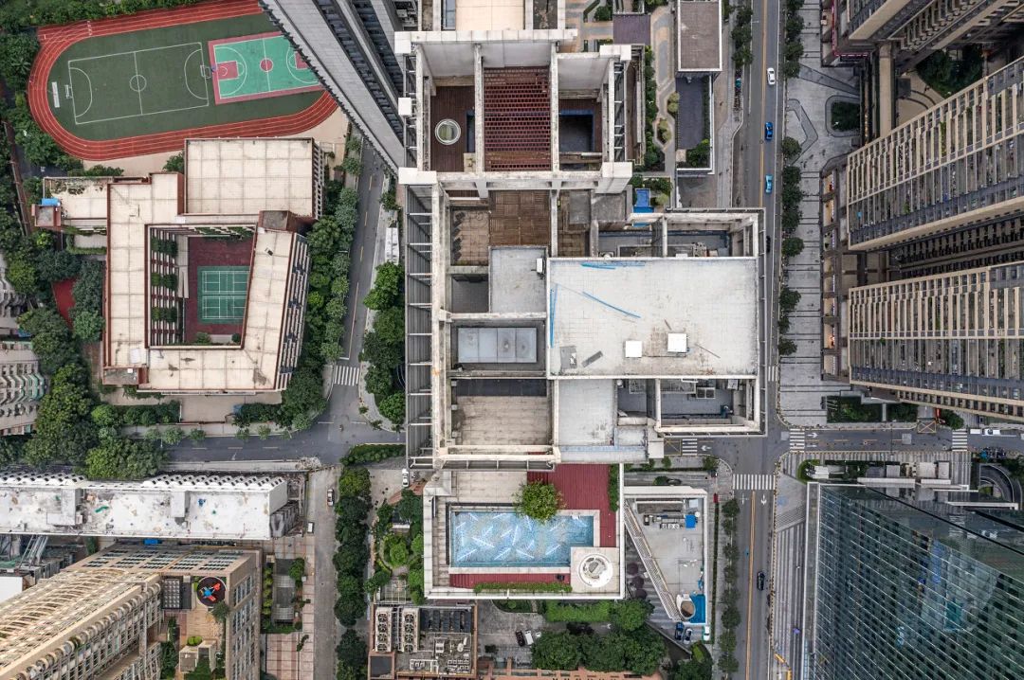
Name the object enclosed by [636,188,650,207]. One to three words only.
swimming pool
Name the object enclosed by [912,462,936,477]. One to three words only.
shed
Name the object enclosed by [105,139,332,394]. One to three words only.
building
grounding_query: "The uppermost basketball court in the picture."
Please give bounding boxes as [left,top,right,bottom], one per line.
[208,31,323,103]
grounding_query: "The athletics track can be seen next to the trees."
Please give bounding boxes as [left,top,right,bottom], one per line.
[28,0,336,157]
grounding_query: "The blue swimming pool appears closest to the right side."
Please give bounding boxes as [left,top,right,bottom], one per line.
[690,593,704,621]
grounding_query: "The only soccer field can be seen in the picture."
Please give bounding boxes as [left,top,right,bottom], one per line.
[47,13,323,138]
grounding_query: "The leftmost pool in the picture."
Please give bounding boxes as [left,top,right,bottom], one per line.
[448,506,602,573]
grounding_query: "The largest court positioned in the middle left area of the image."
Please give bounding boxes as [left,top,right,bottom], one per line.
[198,266,249,323]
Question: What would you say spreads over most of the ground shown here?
buildings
